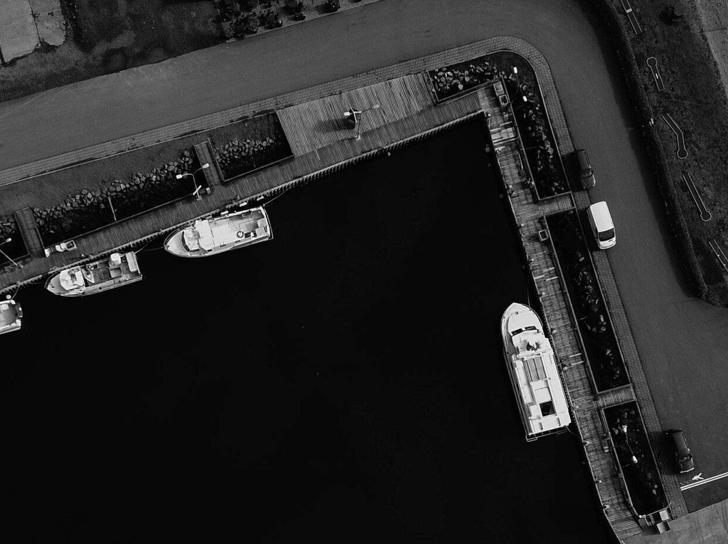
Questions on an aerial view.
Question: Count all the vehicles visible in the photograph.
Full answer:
I count 3 vehicles.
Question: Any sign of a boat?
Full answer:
Yes, the photo shows a boat.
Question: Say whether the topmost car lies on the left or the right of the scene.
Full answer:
The topmost car is on the right side of the image.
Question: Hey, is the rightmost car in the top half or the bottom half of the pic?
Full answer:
The bottom half of the photo is where the rightmost car is.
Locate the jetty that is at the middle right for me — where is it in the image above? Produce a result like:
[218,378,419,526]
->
[477,77,643,543]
